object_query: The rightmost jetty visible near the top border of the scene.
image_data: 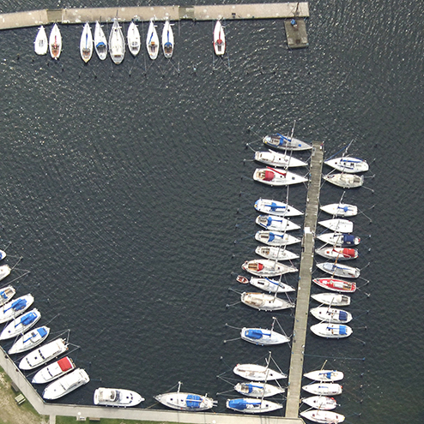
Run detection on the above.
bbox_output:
[194,1,308,22]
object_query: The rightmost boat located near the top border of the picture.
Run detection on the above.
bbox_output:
[209,17,226,58]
